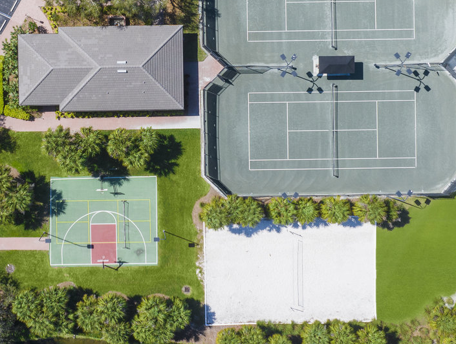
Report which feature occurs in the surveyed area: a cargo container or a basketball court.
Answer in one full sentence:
There is a basketball court in the scene.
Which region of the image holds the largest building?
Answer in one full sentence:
Look in the top left portion of the view to spot the largest building.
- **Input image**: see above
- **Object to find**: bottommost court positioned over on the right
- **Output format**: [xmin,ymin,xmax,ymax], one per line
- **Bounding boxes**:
[204,220,377,327]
